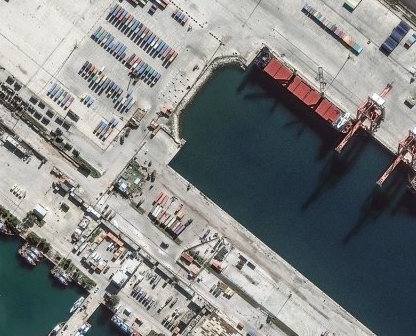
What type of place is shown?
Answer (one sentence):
The picture captures a port.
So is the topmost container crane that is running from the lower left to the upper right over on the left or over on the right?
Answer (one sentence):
The topmost container crane that is running from the lower left to the upper right sits on the right side.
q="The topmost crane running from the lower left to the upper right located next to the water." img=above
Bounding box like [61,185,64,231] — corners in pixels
[335,83,392,151]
